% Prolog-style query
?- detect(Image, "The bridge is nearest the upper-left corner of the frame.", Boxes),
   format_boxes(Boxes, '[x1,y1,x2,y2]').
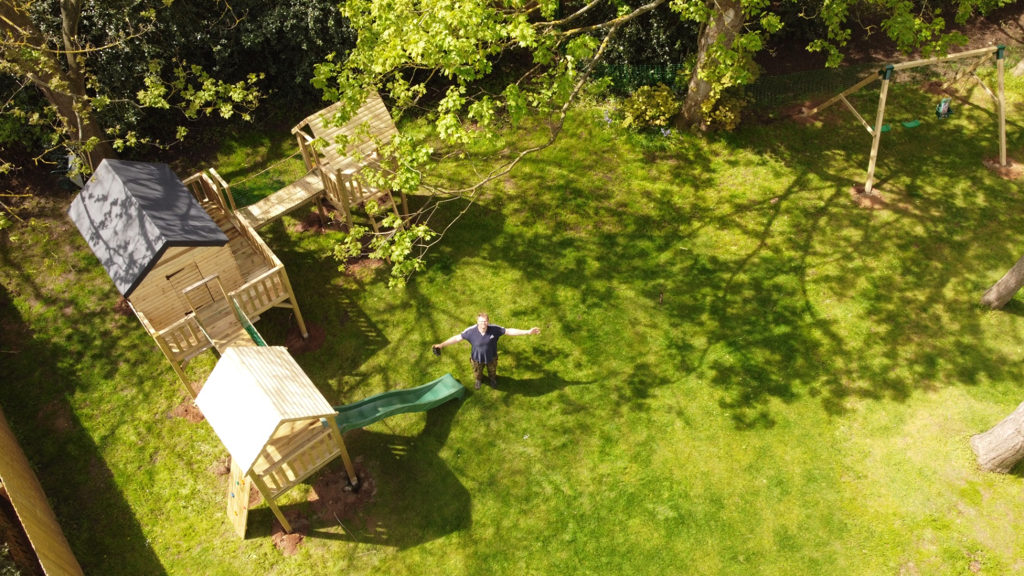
[222,149,324,228]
